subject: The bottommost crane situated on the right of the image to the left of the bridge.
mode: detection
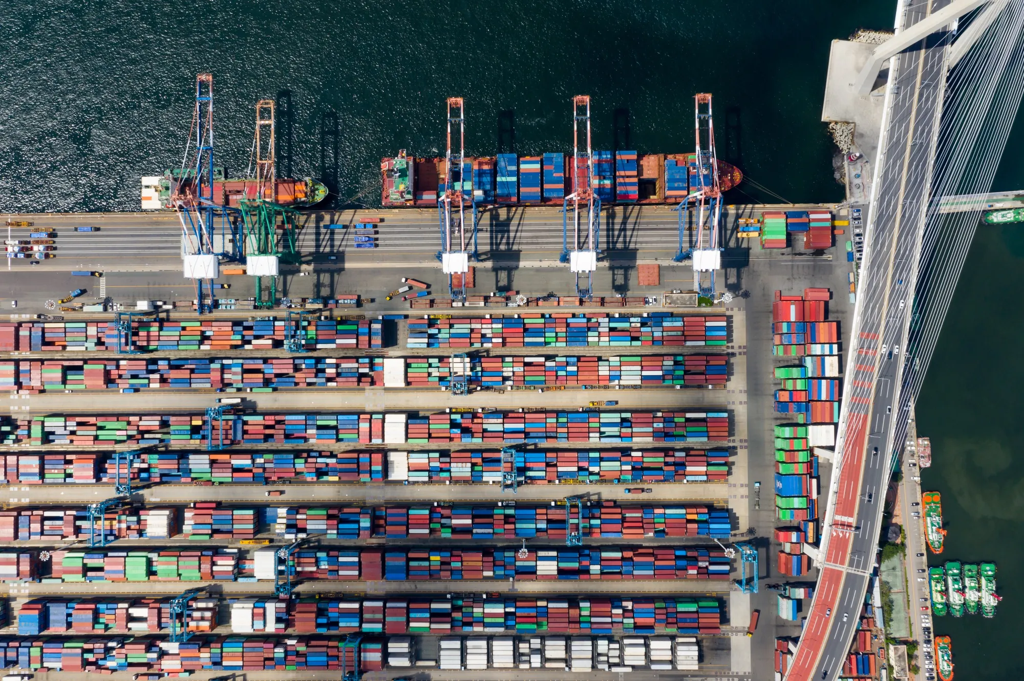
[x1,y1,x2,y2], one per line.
[725,535,759,594]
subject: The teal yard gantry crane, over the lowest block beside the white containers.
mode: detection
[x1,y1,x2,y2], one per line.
[340,628,363,681]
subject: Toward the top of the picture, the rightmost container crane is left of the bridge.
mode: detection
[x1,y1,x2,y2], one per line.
[668,92,726,299]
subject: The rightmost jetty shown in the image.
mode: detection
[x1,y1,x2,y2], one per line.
[930,190,1024,213]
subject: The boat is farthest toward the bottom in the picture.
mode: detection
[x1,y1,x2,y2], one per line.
[934,634,964,681]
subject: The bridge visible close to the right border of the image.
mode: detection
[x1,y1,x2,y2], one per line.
[782,0,1024,681]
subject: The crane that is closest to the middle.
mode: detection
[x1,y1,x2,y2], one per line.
[449,352,476,397]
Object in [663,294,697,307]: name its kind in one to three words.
building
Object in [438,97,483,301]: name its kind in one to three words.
container crane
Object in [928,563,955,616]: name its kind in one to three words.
boat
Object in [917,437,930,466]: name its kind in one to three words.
ship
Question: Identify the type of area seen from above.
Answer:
port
